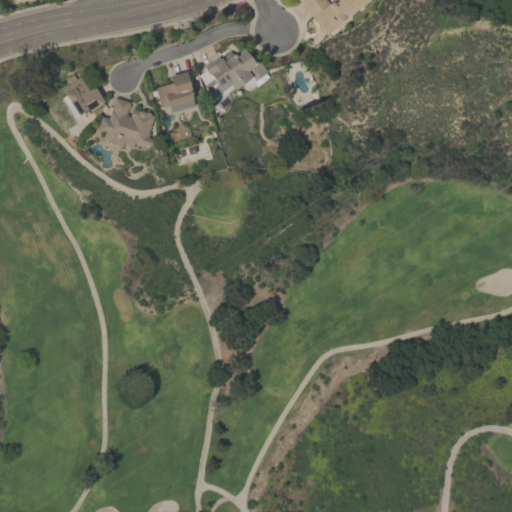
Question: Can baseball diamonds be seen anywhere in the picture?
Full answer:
No, there's no baseball diamond here.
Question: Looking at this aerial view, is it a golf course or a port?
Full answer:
What you see here is a golf course.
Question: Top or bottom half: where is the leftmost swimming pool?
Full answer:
The leftmost swimming pool is in the top half of the image.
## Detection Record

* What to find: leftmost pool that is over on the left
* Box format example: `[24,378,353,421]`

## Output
[90,144,114,169]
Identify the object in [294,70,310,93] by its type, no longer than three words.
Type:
swimming pool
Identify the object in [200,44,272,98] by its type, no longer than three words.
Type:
house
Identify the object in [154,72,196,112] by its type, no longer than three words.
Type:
house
